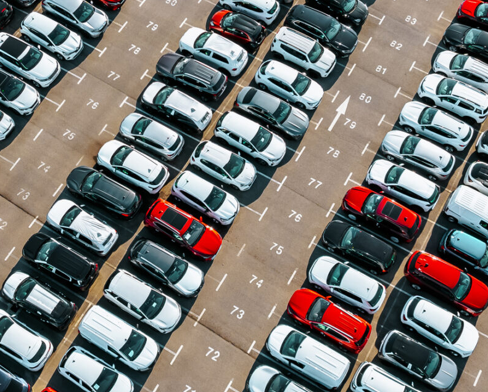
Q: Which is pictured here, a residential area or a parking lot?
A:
parking lot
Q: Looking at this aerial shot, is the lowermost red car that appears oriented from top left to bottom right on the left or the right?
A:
right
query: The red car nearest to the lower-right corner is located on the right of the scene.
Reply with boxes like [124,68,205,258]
[402,245,488,312]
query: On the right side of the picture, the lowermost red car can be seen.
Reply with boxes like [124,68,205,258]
[286,287,371,349]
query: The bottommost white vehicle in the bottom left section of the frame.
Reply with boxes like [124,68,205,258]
[54,335,134,392]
